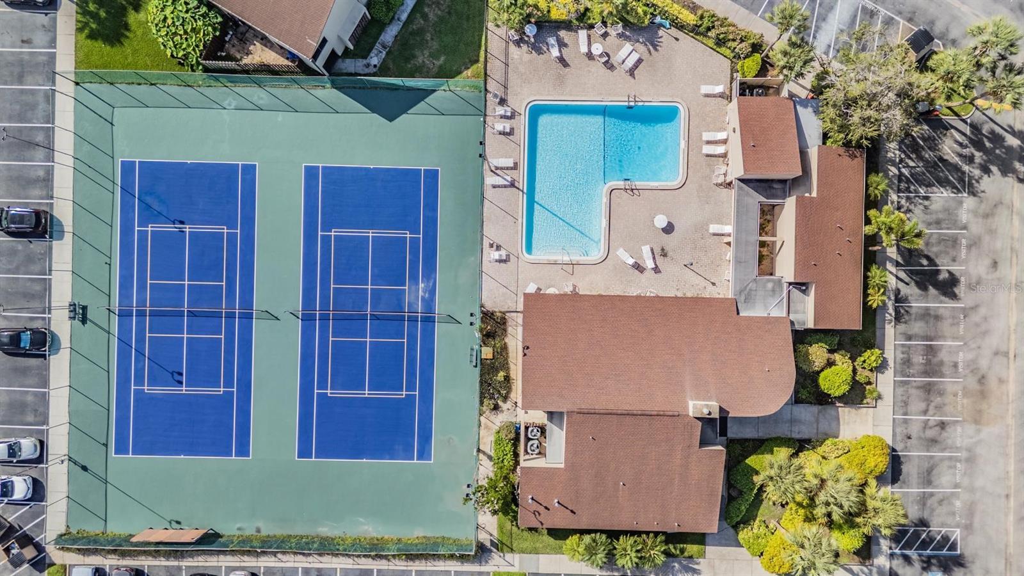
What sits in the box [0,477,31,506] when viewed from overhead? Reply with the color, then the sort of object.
white car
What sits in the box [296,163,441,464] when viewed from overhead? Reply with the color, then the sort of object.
blue tennis court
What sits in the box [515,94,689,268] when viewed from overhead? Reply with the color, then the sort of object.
blue swimming pool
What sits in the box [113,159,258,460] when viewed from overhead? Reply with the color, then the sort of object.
blue tennis court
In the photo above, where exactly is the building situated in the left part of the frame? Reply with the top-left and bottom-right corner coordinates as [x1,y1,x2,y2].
[205,0,379,76]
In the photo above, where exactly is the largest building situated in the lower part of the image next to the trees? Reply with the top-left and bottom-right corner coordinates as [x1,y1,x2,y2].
[518,294,796,532]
